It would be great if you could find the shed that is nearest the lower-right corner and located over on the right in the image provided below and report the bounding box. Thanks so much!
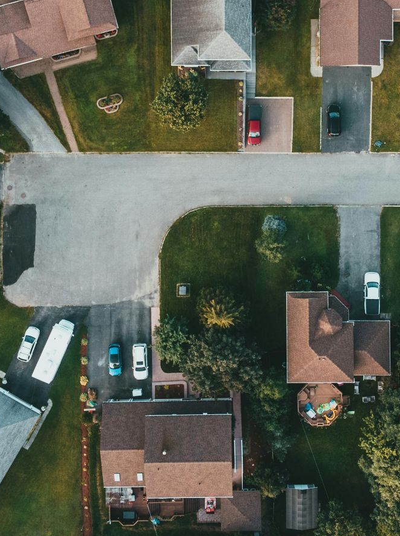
[286,479,319,530]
